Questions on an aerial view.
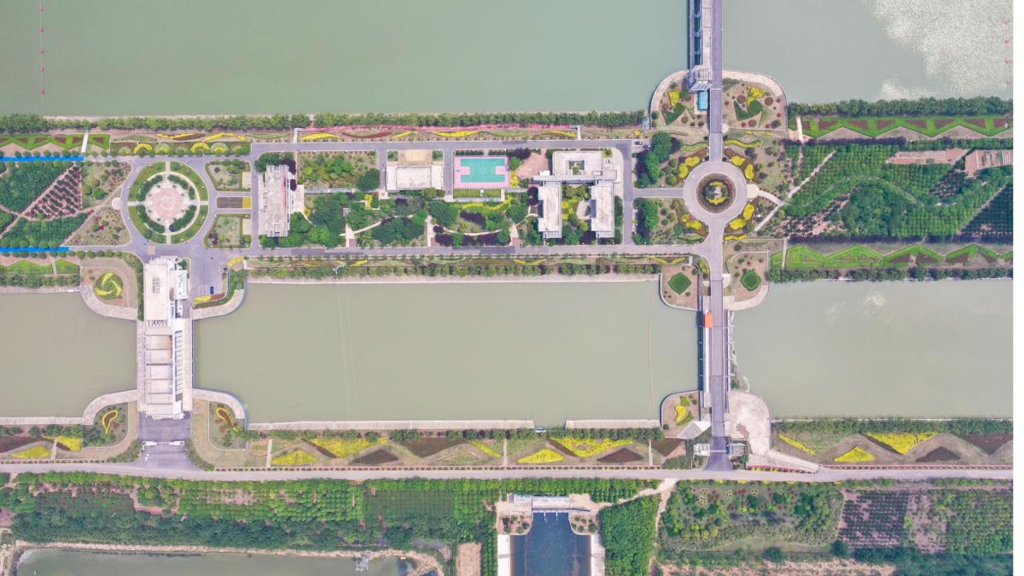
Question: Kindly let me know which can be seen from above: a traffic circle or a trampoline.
traffic circle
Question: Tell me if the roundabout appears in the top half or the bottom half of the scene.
top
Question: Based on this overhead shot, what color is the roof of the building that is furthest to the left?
white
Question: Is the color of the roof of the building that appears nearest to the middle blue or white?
white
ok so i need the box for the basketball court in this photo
[454,156,510,189]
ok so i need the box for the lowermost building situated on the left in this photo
[143,256,196,323]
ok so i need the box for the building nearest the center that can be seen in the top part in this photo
[538,181,562,239]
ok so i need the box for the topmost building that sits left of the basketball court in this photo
[386,165,444,190]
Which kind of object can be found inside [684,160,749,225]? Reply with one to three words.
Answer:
roundabout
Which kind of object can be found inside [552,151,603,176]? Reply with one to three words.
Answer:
building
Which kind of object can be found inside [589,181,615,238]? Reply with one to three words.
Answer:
building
